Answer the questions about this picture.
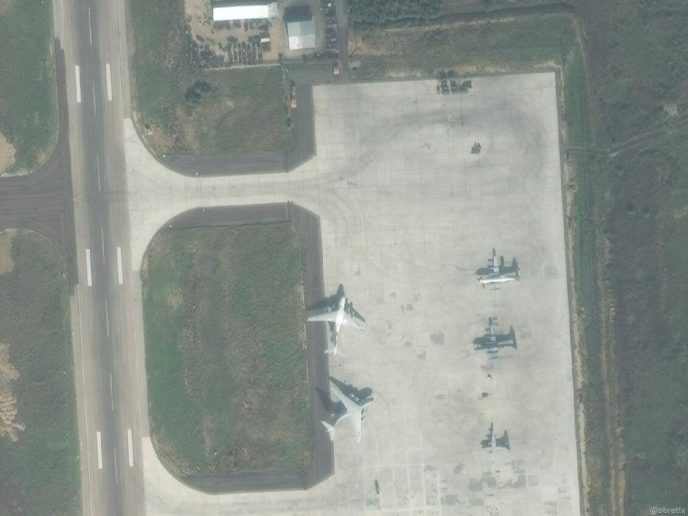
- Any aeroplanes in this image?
Yes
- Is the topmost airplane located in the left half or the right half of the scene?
right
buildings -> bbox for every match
[212,3,268,22]
[287,20,315,49]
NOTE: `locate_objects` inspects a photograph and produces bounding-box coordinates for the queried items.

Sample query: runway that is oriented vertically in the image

[53,0,150,516]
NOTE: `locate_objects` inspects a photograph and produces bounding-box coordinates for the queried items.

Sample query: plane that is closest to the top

[480,257,521,303]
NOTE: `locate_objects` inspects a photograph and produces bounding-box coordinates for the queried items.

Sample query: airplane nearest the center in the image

[308,296,369,353]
